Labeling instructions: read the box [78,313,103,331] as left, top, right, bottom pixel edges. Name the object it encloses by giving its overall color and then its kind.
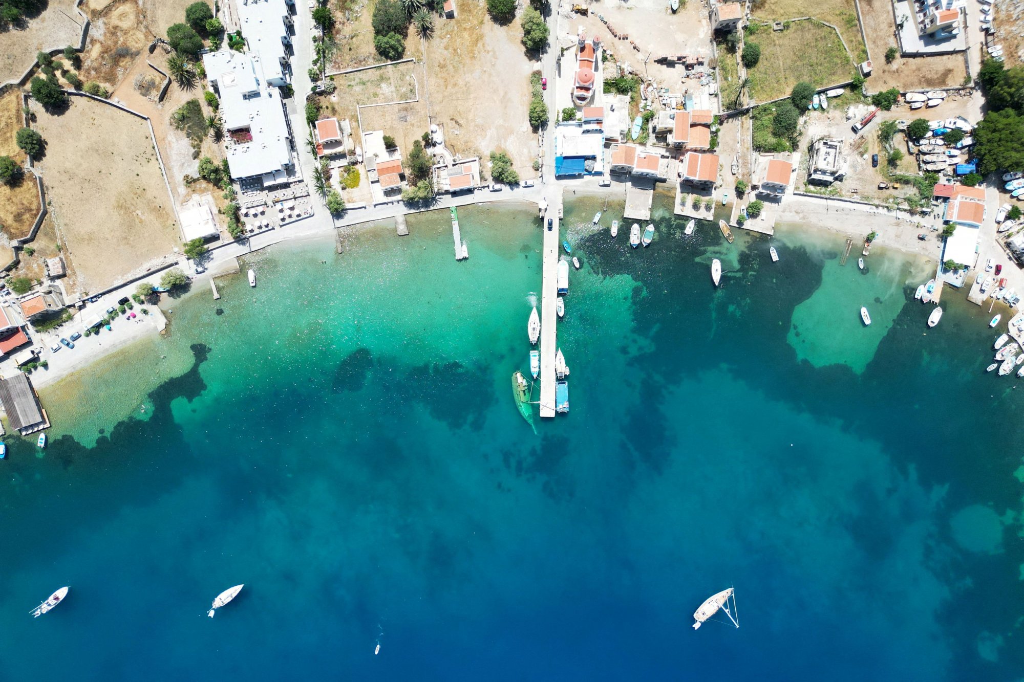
white vehicle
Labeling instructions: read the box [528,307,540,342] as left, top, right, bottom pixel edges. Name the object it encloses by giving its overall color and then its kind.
white boat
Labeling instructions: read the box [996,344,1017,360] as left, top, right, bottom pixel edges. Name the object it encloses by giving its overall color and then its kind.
white boat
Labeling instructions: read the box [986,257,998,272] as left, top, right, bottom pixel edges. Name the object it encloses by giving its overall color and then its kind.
white vehicle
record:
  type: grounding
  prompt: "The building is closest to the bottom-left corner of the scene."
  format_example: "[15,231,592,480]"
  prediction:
[0,373,54,435]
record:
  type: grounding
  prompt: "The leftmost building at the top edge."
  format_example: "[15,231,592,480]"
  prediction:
[202,0,295,192]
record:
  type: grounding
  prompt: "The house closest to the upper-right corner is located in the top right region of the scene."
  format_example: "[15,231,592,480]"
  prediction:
[902,0,968,46]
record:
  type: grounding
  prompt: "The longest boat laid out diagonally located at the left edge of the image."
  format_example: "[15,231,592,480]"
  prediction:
[27,588,68,617]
